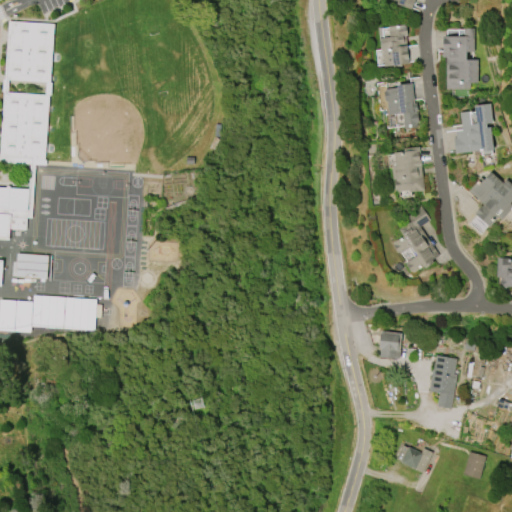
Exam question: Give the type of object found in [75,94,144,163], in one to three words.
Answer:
baseball field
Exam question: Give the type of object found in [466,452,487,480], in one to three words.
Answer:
barn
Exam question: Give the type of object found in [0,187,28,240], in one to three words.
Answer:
building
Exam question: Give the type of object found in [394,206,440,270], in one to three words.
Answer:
house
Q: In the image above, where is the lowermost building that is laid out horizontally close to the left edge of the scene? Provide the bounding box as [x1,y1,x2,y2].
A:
[0,294,97,334]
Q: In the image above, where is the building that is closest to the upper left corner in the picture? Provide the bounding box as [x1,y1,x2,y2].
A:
[0,20,56,166]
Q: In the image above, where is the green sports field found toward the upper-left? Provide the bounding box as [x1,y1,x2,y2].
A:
[48,0,223,172]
